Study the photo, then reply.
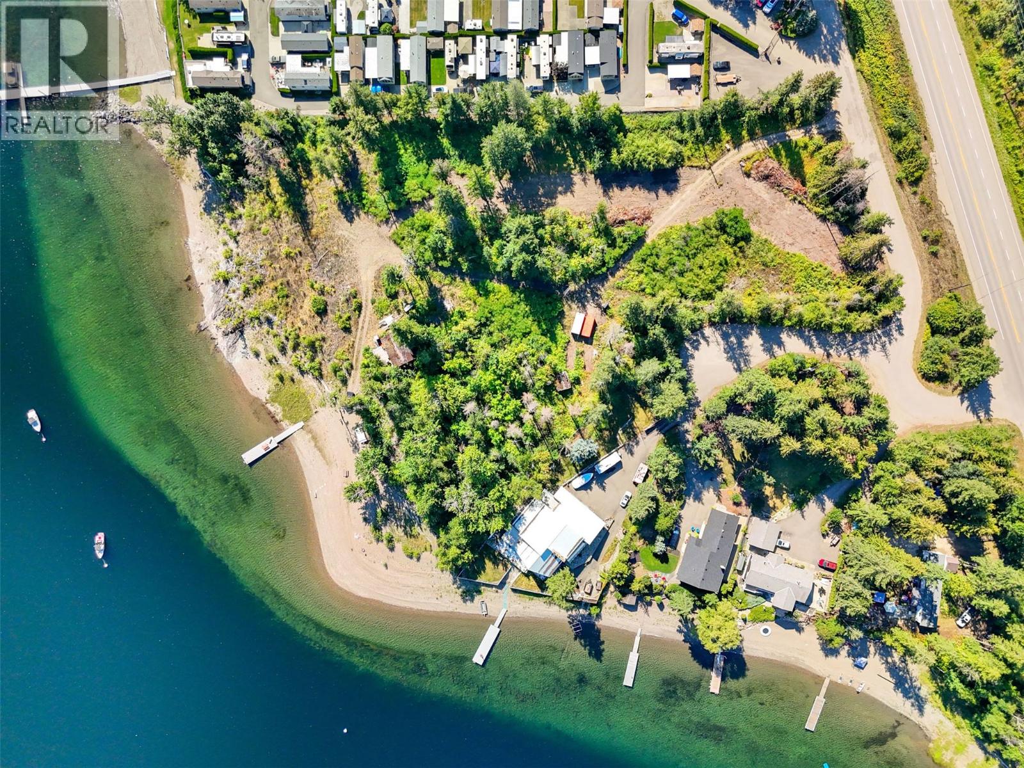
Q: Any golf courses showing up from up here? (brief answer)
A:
No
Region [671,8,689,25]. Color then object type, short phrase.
blue vehicle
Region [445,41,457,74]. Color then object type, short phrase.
white vehicle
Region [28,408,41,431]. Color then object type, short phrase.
white boat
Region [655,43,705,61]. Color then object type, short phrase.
white trailer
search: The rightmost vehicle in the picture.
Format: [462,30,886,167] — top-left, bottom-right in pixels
[954,610,973,629]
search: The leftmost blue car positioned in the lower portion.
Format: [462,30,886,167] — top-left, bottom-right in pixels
[668,529,680,549]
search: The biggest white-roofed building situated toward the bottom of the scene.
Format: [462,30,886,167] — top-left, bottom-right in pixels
[484,484,610,577]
